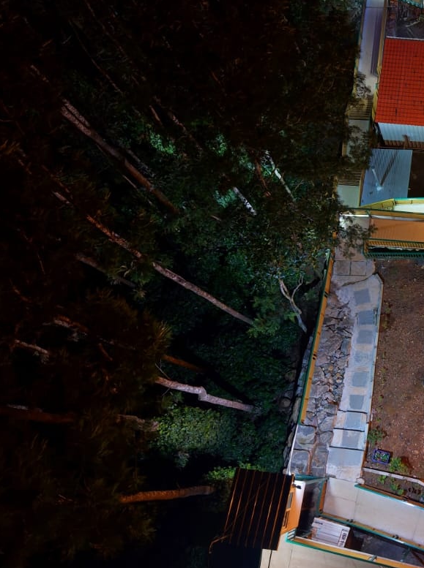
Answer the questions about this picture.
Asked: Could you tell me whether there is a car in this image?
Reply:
No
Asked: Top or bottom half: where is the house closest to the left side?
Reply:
bottom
